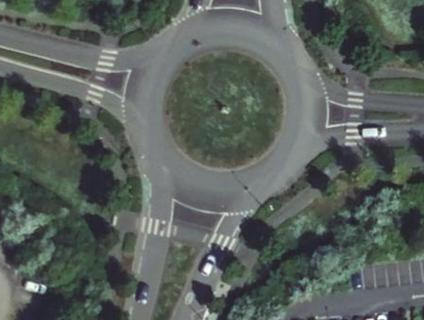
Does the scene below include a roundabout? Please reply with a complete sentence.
Yes, the frame does contain a roundabout.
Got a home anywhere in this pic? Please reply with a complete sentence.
No, there appears to be no home in this shot.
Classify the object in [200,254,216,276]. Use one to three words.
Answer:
car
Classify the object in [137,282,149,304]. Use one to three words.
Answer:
vehicle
